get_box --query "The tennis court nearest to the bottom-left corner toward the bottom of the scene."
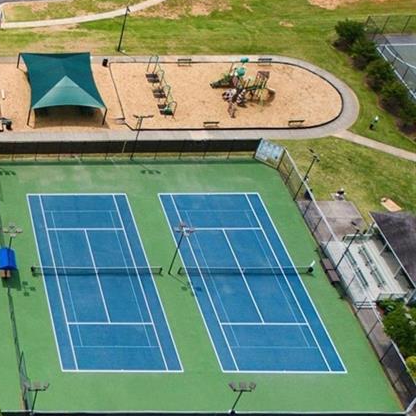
[27,193,183,372]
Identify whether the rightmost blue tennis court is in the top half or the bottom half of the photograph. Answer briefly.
bottom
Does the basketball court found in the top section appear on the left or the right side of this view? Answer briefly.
right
